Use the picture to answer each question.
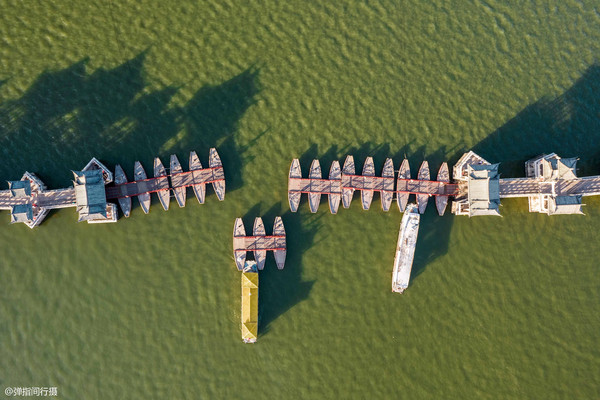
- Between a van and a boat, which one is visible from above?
boat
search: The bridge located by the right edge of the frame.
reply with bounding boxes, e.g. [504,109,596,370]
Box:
[448,151,600,215]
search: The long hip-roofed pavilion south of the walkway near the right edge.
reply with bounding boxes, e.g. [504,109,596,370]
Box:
[544,193,587,216]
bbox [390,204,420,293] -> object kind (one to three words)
boat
